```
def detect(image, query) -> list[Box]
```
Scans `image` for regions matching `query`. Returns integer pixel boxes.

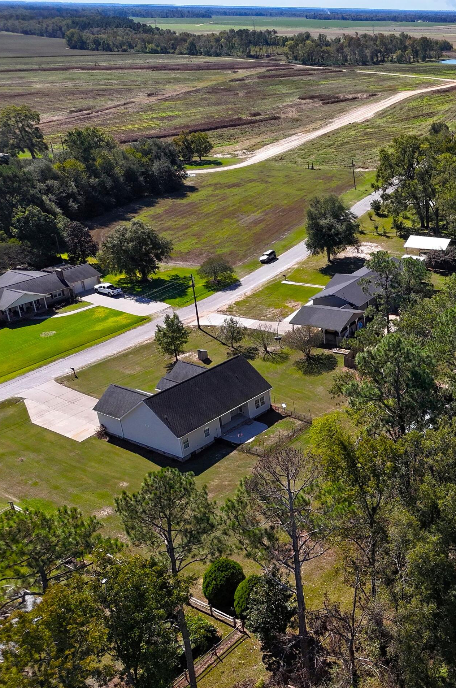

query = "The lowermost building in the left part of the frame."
[81,356,272,460]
